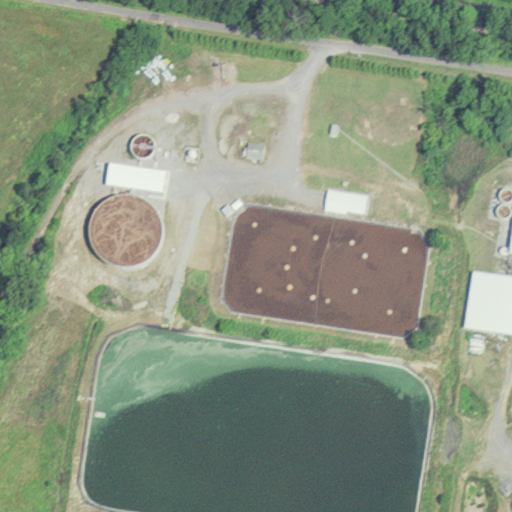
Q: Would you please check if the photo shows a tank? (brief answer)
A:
Yes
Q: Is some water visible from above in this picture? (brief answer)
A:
Yes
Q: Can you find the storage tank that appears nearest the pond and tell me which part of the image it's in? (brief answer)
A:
left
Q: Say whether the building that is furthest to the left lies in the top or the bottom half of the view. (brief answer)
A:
top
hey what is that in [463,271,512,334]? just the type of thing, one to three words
building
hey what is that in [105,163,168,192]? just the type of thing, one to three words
building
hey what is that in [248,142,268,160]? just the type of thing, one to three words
house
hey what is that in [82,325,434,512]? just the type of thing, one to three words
pond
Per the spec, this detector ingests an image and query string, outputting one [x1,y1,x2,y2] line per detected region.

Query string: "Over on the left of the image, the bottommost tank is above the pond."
[89,192,164,268]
